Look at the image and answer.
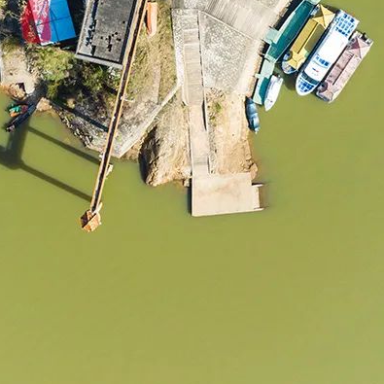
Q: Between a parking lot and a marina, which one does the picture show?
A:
marina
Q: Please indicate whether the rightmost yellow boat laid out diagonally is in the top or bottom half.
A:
top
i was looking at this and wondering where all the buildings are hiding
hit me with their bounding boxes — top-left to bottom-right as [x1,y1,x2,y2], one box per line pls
[79,210,103,234]
[22,0,78,48]
[77,0,140,70]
